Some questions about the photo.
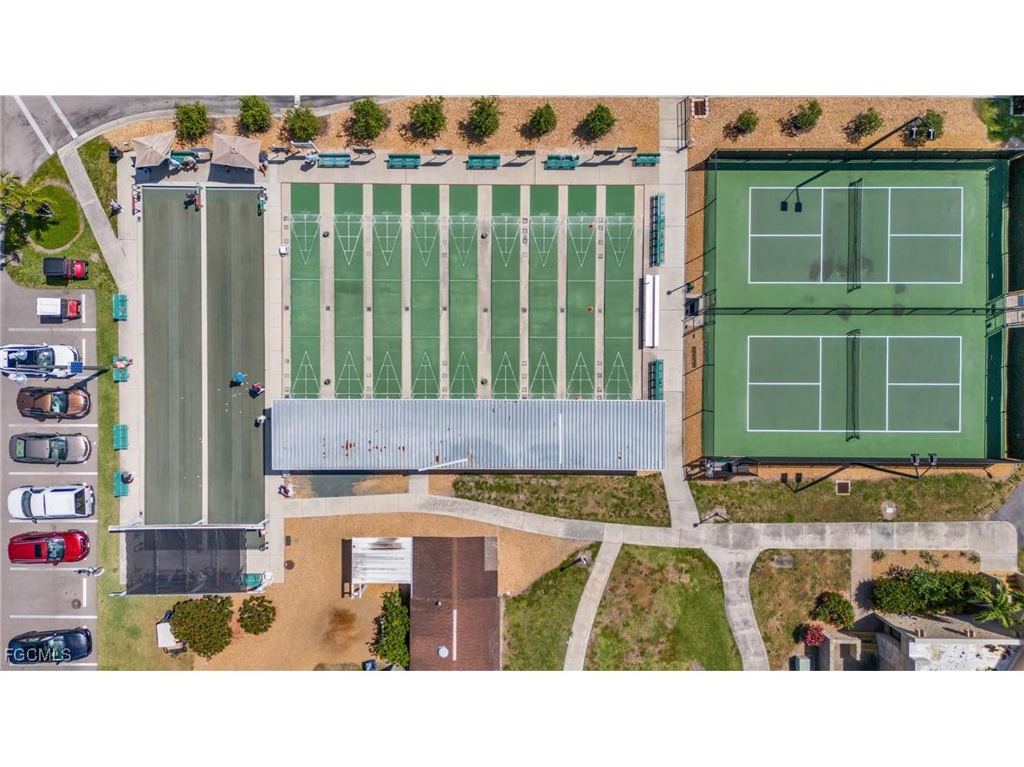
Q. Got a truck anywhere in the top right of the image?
No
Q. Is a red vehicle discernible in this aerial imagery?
Yes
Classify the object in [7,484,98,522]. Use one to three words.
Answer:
truck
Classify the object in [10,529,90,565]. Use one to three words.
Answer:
car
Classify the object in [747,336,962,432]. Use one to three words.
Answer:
sports court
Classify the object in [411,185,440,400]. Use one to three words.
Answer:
sports court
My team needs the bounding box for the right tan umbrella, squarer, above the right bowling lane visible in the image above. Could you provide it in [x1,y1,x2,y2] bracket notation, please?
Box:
[212,135,261,170]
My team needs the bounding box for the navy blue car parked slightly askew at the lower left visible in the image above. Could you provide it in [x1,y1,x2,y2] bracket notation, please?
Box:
[11,623,93,664]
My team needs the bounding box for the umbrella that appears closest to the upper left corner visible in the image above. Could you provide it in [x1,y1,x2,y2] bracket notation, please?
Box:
[132,130,176,167]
